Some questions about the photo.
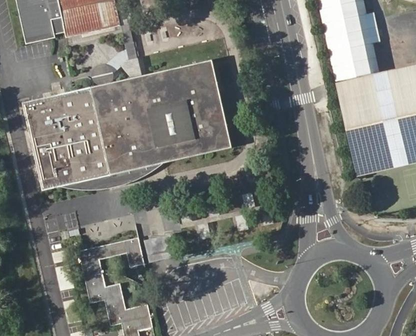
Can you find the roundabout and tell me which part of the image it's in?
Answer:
bottom right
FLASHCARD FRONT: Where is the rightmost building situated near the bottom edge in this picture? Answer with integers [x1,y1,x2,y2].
[82,238,154,336]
